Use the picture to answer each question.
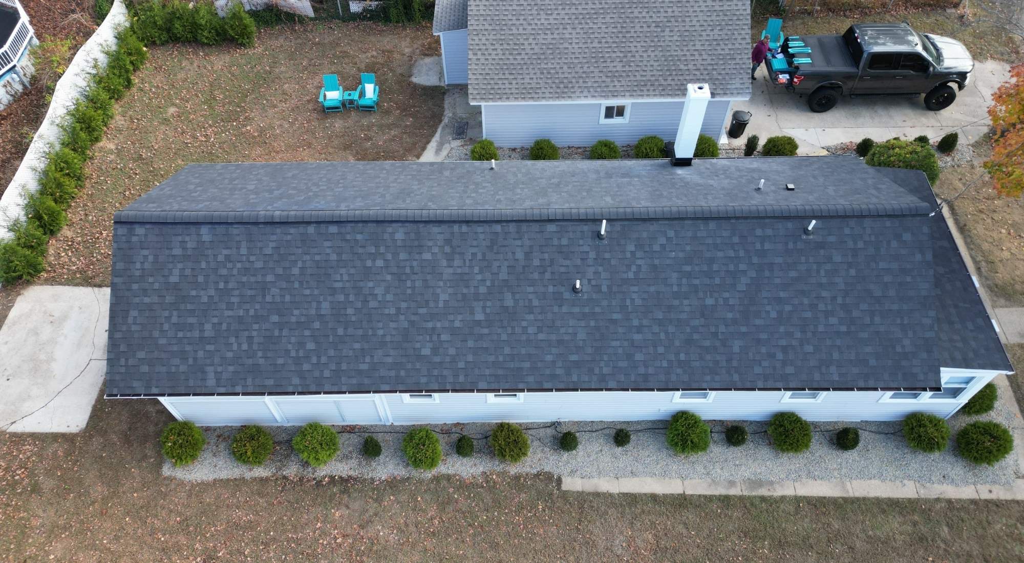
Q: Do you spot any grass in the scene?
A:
Yes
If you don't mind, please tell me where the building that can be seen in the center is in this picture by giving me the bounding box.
[106,84,1014,427]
